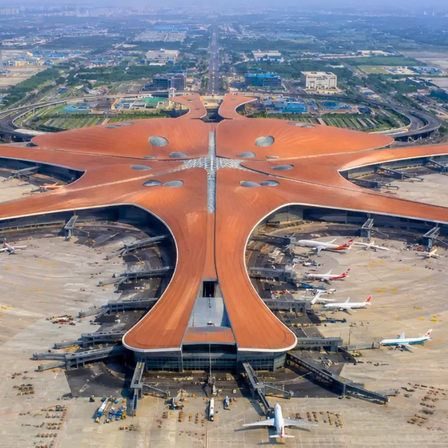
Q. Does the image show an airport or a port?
airport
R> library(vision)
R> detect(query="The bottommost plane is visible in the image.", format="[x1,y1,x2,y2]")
[244,399,317,440]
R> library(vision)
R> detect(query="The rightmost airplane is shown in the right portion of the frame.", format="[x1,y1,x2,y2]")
[418,244,448,262]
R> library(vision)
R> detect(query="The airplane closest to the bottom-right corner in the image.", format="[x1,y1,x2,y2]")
[381,328,431,352]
